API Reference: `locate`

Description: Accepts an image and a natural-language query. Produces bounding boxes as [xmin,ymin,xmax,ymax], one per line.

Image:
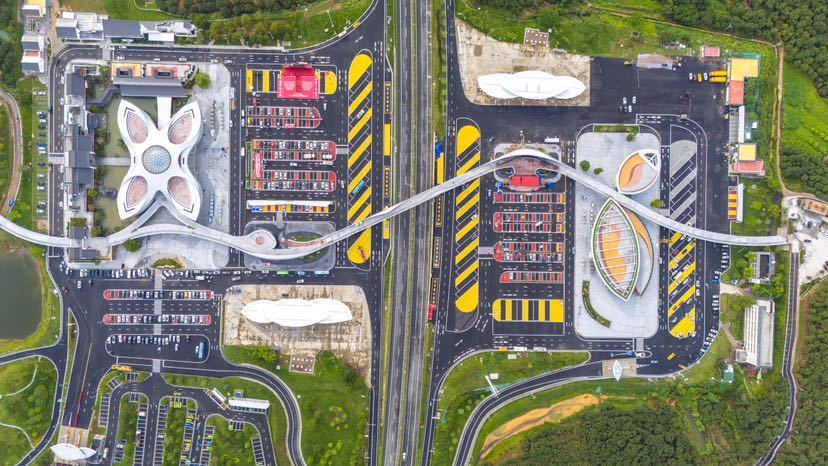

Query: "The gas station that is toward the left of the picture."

[241,299,353,328]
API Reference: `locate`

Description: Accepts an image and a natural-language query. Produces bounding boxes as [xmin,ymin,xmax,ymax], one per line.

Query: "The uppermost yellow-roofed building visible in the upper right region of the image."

[726,58,758,79]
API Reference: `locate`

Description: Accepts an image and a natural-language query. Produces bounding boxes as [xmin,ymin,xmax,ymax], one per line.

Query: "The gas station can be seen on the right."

[477,71,585,100]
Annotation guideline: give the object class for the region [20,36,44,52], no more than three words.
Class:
house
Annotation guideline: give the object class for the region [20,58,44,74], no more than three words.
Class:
house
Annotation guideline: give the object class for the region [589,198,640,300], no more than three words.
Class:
building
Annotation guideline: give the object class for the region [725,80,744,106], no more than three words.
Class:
building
